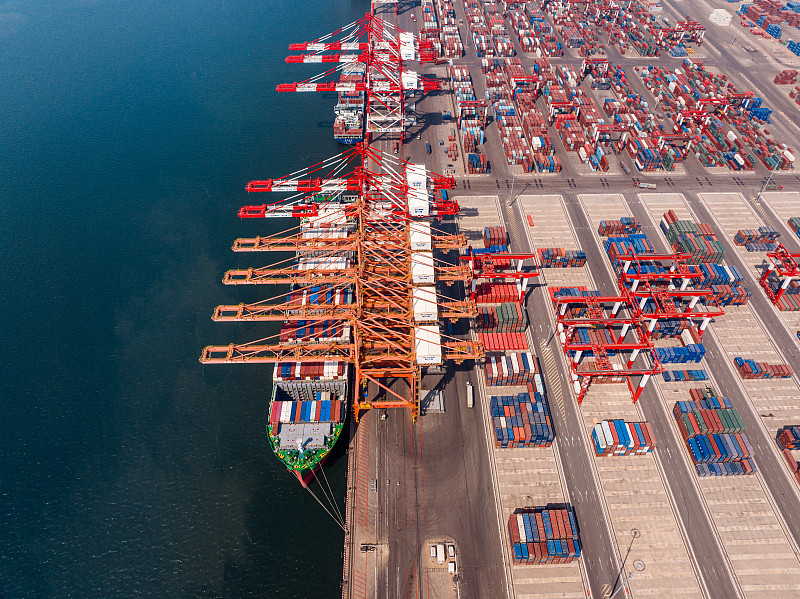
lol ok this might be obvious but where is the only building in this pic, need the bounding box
[709,5,737,26]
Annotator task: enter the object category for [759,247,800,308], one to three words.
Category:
container crane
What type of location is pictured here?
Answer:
port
